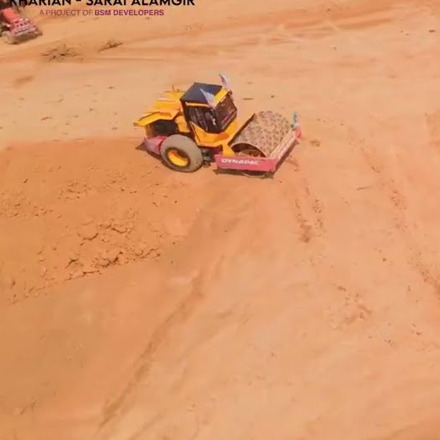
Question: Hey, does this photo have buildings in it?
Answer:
No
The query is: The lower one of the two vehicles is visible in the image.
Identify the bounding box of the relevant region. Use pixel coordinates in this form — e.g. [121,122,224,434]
[127,85,297,179]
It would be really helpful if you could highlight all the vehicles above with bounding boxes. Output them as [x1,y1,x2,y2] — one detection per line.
[127,85,297,179]
[0,0,40,47]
